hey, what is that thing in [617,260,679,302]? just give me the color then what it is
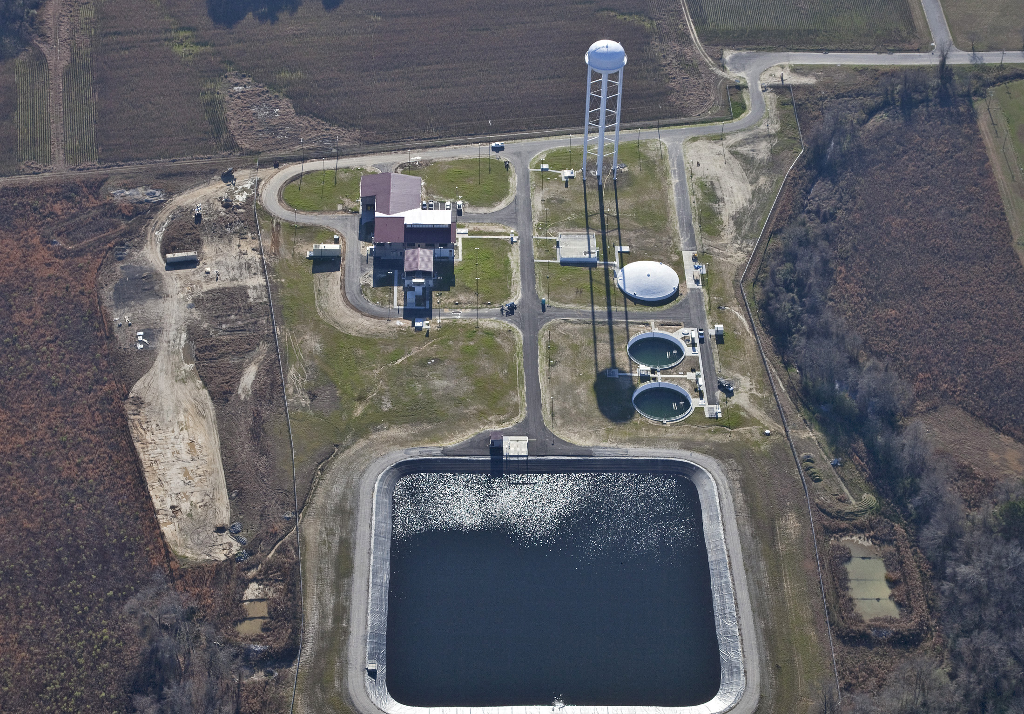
white storage tank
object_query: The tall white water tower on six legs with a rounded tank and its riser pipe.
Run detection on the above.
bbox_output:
[581,40,626,185]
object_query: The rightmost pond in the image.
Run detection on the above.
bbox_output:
[833,537,899,620]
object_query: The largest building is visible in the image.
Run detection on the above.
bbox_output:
[360,172,456,258]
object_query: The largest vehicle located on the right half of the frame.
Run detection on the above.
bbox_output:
[714,376,738,392]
